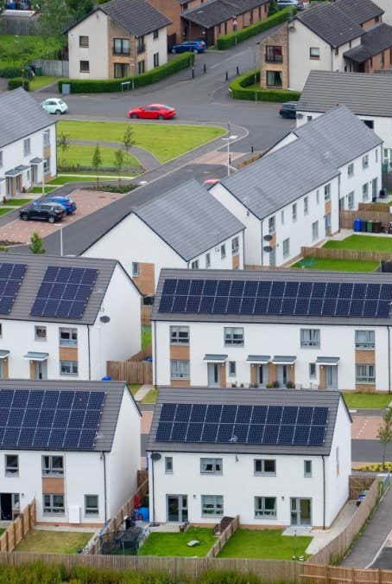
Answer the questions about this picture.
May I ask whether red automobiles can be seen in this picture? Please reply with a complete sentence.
Yes, this view includes a red automobile.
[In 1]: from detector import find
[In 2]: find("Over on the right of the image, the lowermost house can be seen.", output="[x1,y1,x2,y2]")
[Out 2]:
[147,370,351,528]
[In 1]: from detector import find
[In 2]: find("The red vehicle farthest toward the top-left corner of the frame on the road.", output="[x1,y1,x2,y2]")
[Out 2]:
[128,101,174,118]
